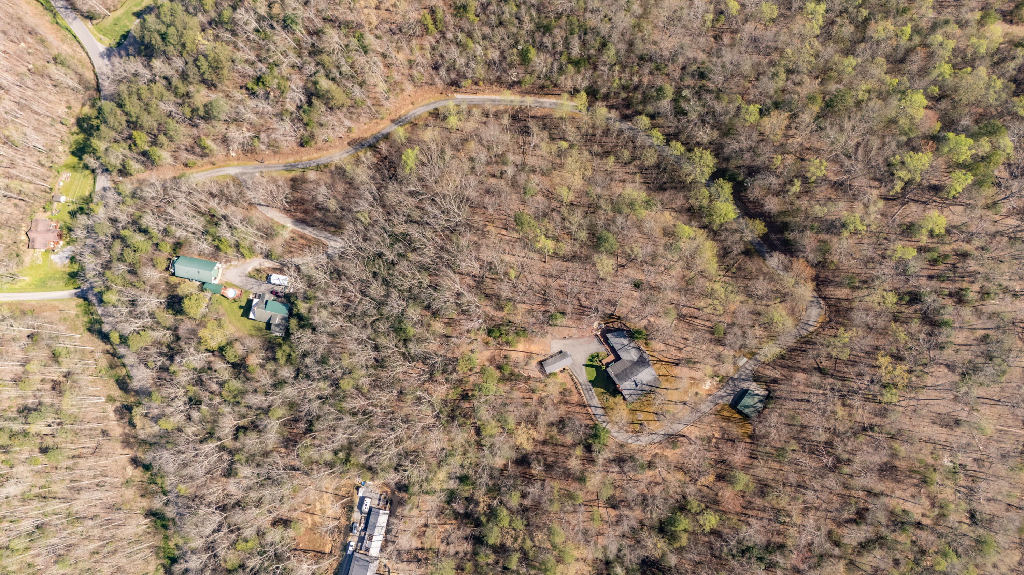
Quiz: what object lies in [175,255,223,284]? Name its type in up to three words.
barn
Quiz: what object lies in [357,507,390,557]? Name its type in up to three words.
house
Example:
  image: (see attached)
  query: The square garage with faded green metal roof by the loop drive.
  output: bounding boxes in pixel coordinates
[736,390,765,420]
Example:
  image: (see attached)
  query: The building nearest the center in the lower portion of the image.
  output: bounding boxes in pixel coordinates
[543,352,573,373]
